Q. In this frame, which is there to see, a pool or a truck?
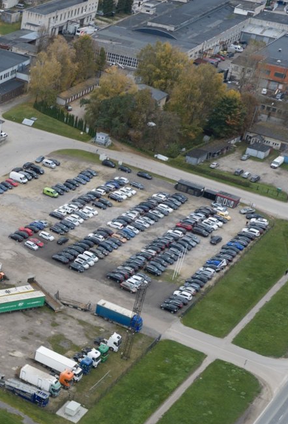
truck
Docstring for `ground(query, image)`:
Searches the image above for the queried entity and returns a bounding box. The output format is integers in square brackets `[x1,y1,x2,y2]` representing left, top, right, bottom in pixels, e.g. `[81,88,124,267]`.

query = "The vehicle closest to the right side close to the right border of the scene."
[272,154,285,167]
